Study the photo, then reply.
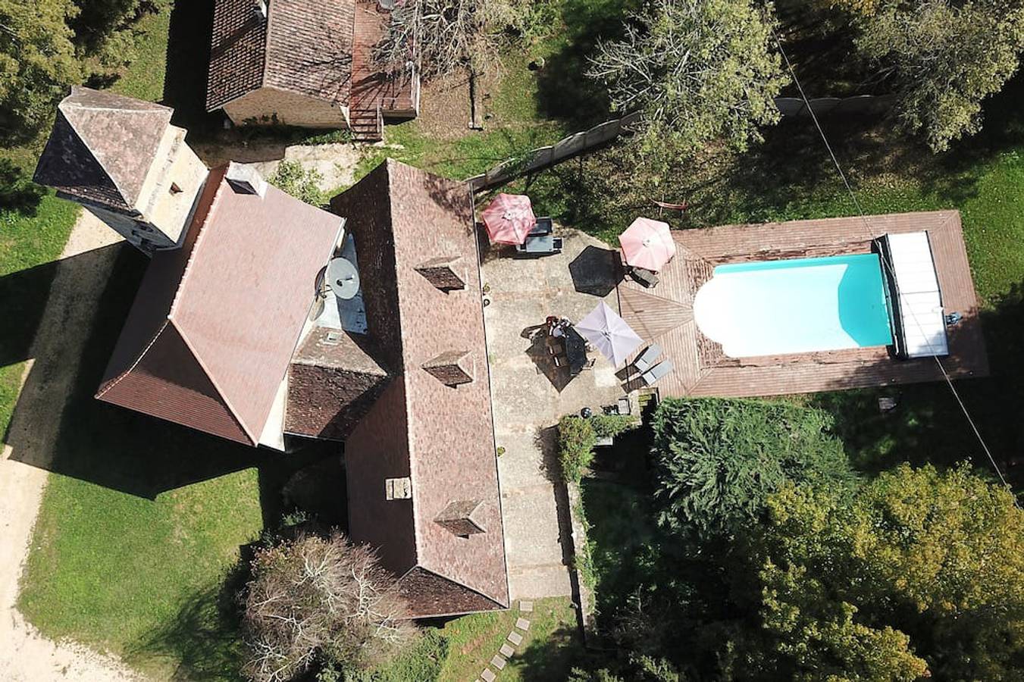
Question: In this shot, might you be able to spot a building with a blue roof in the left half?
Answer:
No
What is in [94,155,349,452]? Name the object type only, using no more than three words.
house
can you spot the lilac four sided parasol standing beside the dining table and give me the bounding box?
[575,301,643,368]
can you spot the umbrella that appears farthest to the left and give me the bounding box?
[483,194,536,244]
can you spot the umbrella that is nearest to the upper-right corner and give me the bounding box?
[618,218,675,271]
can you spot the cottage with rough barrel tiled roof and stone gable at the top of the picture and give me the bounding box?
[205,0,364,128]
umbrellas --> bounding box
[618,218,675,271]
[483,194,536,244]
[575,301,643,368]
